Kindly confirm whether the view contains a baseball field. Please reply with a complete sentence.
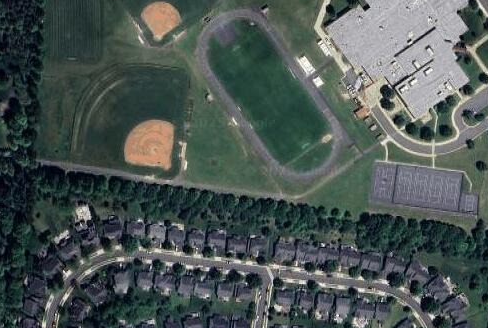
Yes, you can see a baseball field in this photo.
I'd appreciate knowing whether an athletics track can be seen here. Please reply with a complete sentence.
Yes, looking at the shot, I can spot an athletics track.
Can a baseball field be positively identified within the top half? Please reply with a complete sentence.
Yes, looking within the top half, one can make out a baseball field.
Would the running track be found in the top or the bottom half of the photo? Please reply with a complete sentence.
The running track sits in the top half of the picture.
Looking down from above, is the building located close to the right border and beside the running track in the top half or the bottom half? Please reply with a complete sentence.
It is in the top half that the building located close to the right border and beside the running track appears.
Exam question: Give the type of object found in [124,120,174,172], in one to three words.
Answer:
baseball field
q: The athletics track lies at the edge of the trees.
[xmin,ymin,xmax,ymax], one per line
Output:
[194,9,348,180]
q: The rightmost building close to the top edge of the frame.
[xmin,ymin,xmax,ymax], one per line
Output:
[325,0,468,118]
